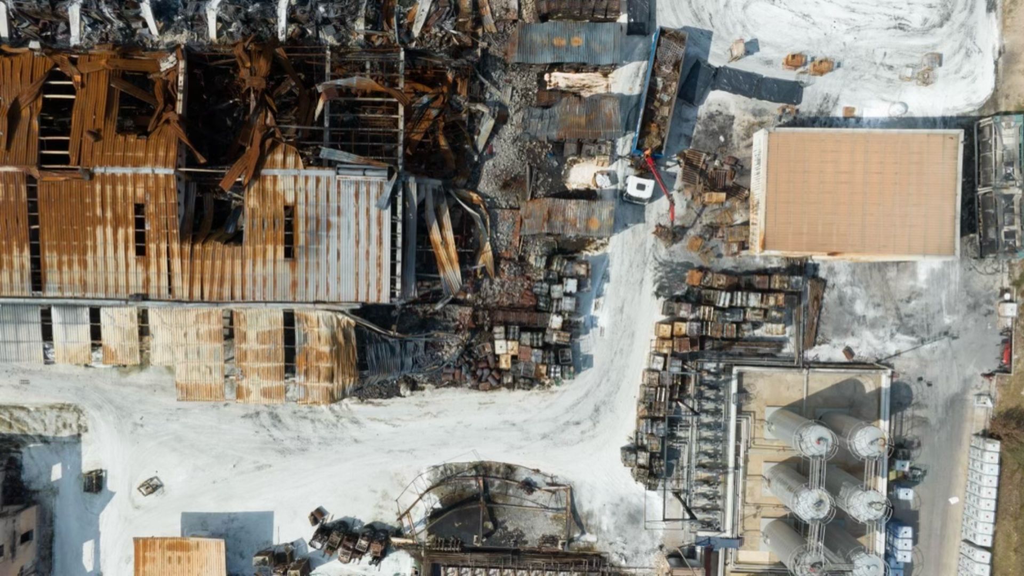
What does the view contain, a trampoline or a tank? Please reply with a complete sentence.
Of the two, only a tank appears.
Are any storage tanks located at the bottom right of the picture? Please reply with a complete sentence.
Yes, there is a storage tank at the bottom right of the picture.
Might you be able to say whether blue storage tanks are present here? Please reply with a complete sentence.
No, there isn't any blue storage tank down there.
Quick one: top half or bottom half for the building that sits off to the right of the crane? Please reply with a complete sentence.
The building that sits off to the right of the crane sits in the top half of the picture.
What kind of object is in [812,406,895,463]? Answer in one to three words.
storage tank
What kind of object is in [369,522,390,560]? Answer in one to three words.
work vehicle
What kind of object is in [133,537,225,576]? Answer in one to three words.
shed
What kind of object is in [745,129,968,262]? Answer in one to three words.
building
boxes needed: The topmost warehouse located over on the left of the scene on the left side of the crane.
[0,0,516,404]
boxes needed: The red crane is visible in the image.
[638,147,679,230]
